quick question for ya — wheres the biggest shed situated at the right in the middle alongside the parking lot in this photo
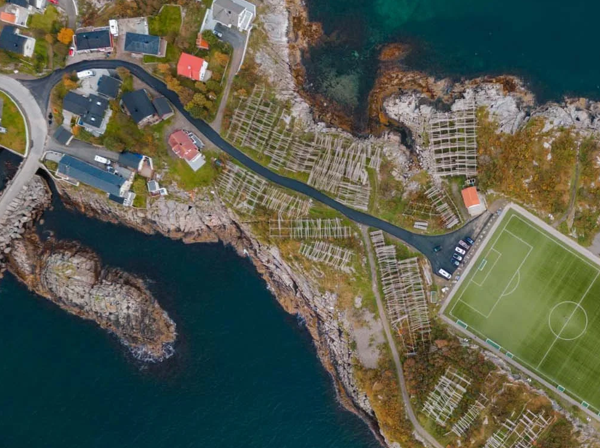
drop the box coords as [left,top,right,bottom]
[461,186,489,218]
